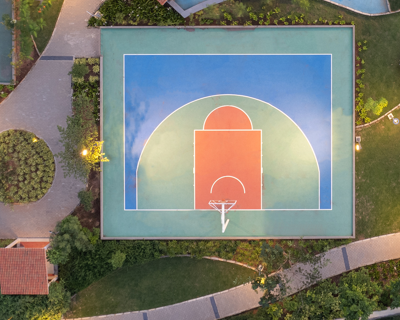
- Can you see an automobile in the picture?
No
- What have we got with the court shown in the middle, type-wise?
basketball court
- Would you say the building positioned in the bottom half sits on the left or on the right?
left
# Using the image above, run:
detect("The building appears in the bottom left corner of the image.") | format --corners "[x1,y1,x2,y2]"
[0,237,58,295]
